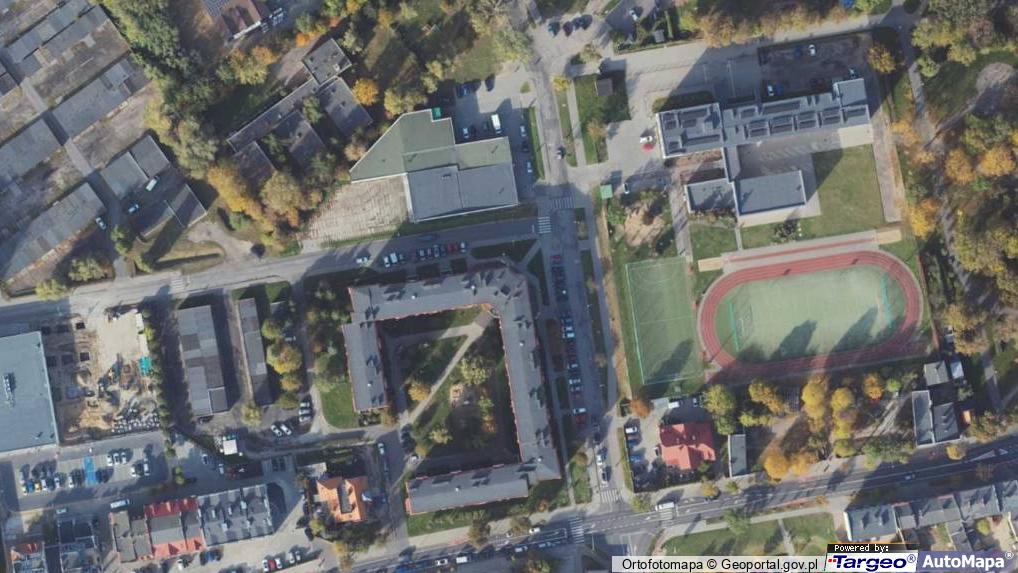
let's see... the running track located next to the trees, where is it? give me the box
[698,250,929,381]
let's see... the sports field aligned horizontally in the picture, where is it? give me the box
[718,268,904,362]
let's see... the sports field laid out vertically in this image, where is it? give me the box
[627,257,702,383]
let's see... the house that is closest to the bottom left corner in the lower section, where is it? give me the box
[11,541,51,573]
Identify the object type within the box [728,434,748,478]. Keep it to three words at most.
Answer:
building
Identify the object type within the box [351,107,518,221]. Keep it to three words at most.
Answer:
building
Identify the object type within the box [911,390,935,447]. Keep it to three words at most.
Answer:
house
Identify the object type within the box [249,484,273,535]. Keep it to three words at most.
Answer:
house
